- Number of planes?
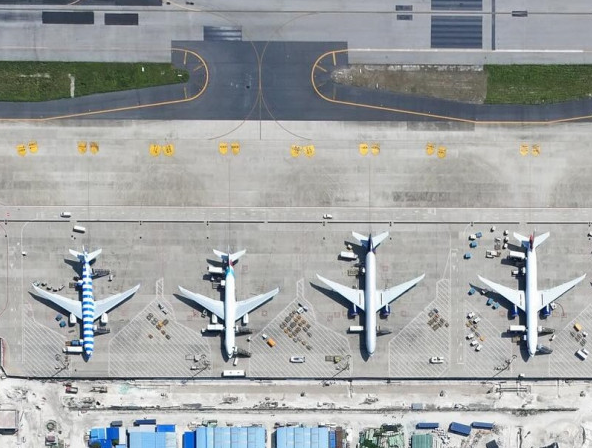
four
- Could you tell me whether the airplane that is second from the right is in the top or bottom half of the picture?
bottom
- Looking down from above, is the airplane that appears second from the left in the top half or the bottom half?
bottom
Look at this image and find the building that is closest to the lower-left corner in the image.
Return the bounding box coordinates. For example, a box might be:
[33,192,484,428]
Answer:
[0,409,17,428]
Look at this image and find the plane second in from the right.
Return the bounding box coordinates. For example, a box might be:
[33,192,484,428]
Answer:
[316,232,424,356]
